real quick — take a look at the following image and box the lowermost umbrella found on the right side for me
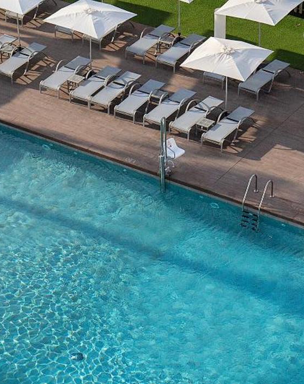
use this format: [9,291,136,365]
[181,35,274,117]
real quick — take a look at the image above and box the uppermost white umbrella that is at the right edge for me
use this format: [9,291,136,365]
[218,0,304,46]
